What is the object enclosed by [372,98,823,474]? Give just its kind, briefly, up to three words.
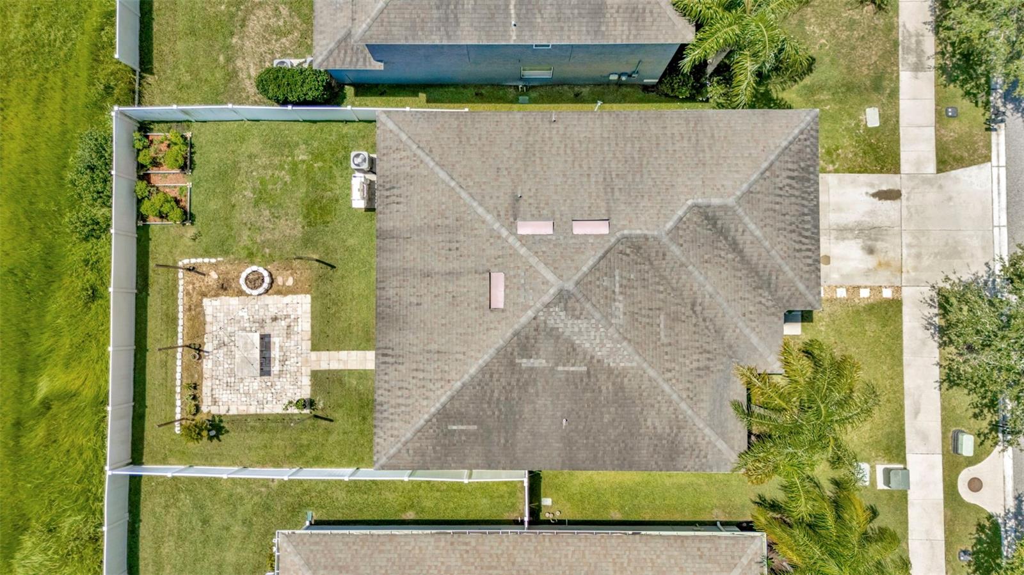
house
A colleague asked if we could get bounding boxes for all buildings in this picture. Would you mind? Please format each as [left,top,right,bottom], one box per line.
[271,512,766,575]
[372,98,823,474]
[311,0,697,84]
